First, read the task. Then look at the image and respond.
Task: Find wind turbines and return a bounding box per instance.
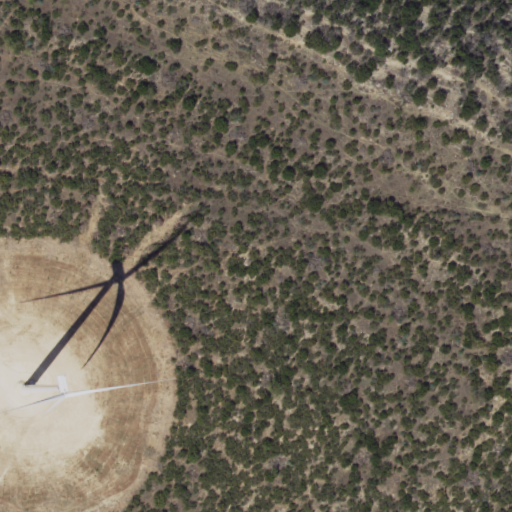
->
[0,374,164,409]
